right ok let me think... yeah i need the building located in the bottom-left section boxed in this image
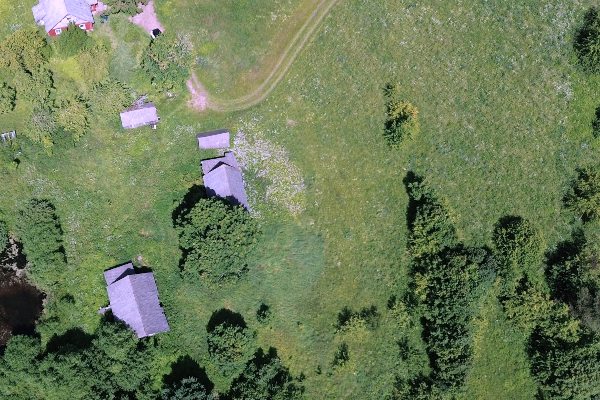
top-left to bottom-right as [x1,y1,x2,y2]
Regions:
[104,263,170,342]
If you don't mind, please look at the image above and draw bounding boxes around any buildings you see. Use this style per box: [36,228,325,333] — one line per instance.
[32,0,98,38]
[120,101,157,130]
[200,152,249,219]
[104,263,170,342]
[196,129,229,150]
